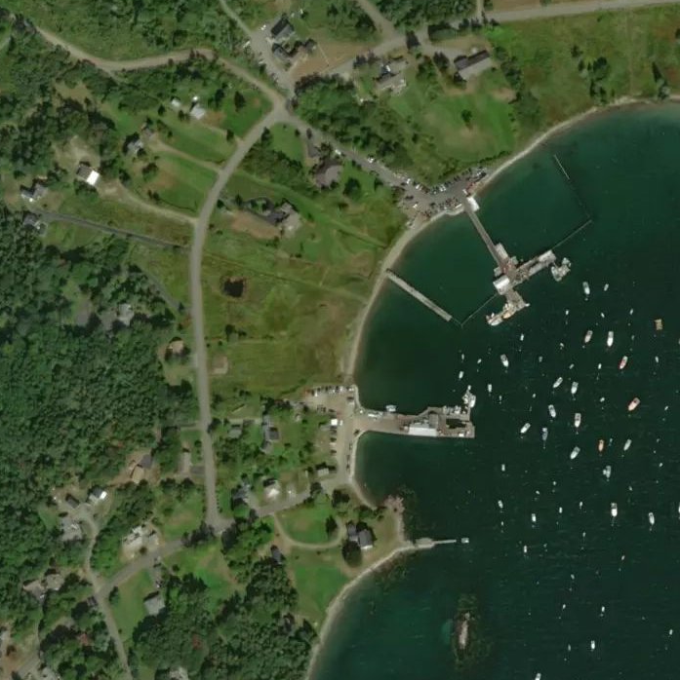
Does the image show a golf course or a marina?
marina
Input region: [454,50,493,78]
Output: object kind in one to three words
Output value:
house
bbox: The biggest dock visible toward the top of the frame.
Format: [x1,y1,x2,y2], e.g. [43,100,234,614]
[465,201,557,310]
